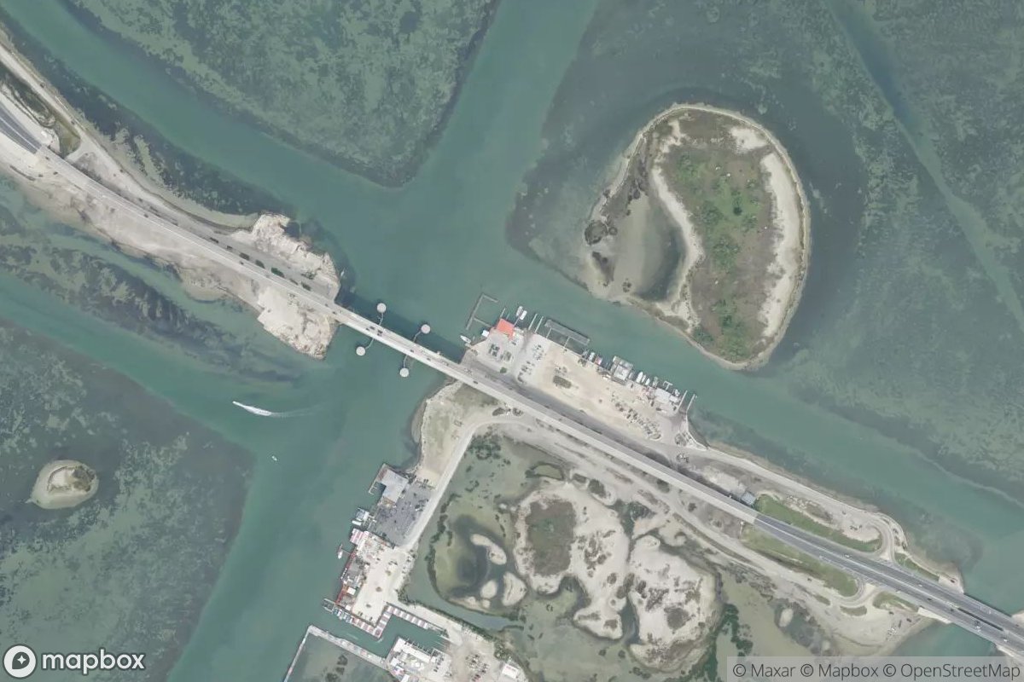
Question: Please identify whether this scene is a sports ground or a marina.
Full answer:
The area seen from above is a marina.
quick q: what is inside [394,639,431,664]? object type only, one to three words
house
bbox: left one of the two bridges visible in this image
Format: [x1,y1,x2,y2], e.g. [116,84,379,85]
[35,145,758,525]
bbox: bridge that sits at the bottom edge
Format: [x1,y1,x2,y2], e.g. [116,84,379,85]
[918,588,1024,663]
